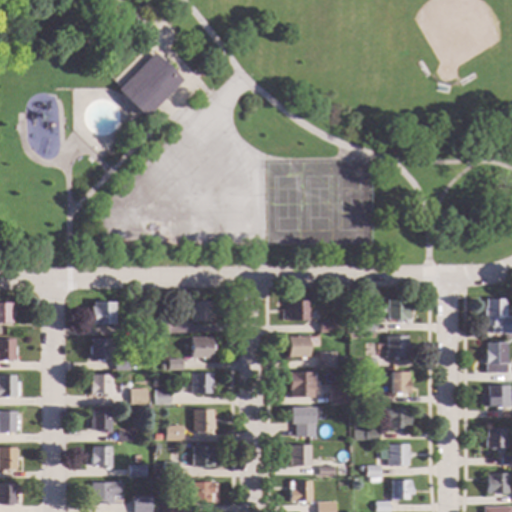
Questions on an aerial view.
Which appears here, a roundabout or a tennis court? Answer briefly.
tennis court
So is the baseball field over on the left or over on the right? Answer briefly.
right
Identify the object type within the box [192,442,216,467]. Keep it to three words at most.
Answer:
house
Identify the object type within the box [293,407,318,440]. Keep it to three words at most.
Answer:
house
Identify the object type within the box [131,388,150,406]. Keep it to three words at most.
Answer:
building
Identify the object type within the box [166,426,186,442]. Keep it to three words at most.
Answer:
building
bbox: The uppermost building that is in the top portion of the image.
[121,54,180,111]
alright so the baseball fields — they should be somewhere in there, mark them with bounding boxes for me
[414,0,502,82]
